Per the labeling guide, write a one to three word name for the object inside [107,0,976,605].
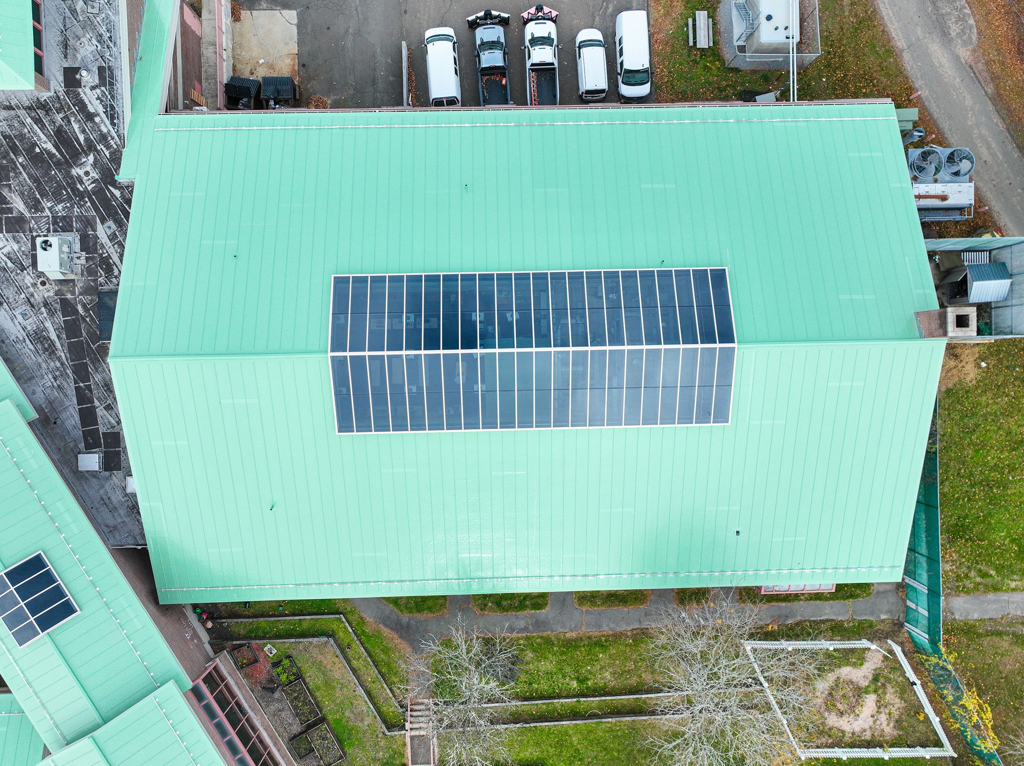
building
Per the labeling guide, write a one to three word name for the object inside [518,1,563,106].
truck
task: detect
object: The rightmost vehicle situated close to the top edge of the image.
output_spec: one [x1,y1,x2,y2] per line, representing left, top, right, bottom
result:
[615,10,656,105]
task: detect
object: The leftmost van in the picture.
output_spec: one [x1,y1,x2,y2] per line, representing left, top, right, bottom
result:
[421,26,463,107]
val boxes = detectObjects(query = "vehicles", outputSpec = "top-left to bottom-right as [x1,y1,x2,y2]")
[615,10,656,105]
[573,29,610,103]
[518,1,563,106]
[421,26,463,107]
[467,6,513,107]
